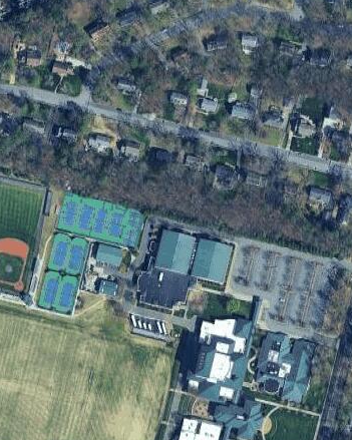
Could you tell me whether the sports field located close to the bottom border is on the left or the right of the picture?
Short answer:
left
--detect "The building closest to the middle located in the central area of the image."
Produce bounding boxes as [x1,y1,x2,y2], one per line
[155,230,196,275]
